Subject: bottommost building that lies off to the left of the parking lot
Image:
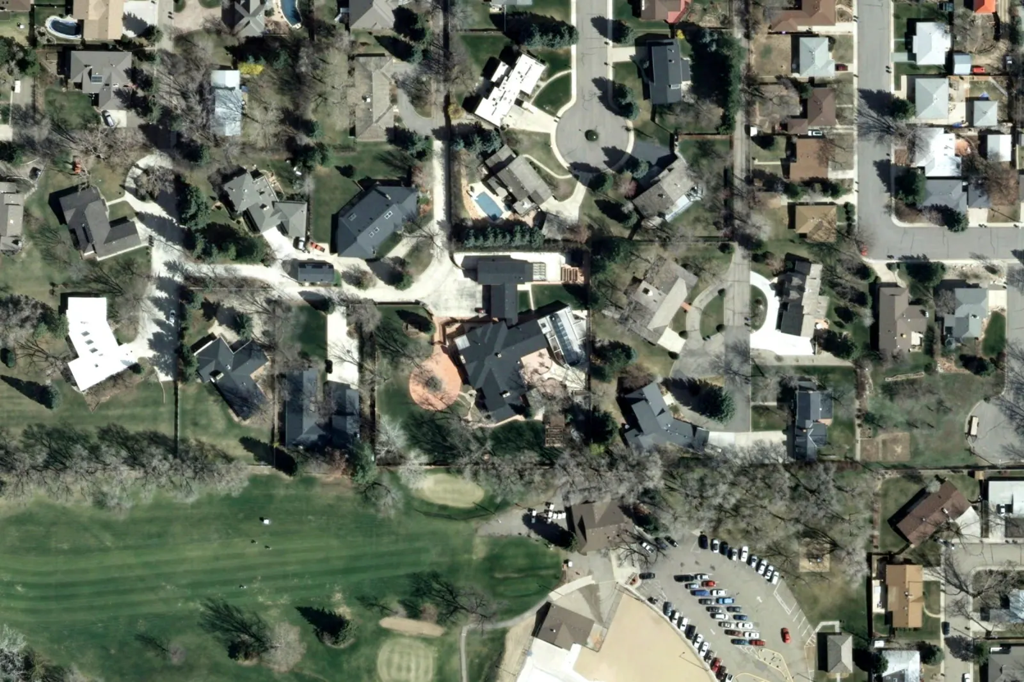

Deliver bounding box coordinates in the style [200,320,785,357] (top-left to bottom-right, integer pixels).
[536,602,596,655]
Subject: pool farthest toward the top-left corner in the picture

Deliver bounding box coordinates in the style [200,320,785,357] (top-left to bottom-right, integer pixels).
[50,17,82,37]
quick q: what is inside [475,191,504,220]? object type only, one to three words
swimming pool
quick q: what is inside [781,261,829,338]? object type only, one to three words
house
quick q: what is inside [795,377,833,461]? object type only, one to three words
house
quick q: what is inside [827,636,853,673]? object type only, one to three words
building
